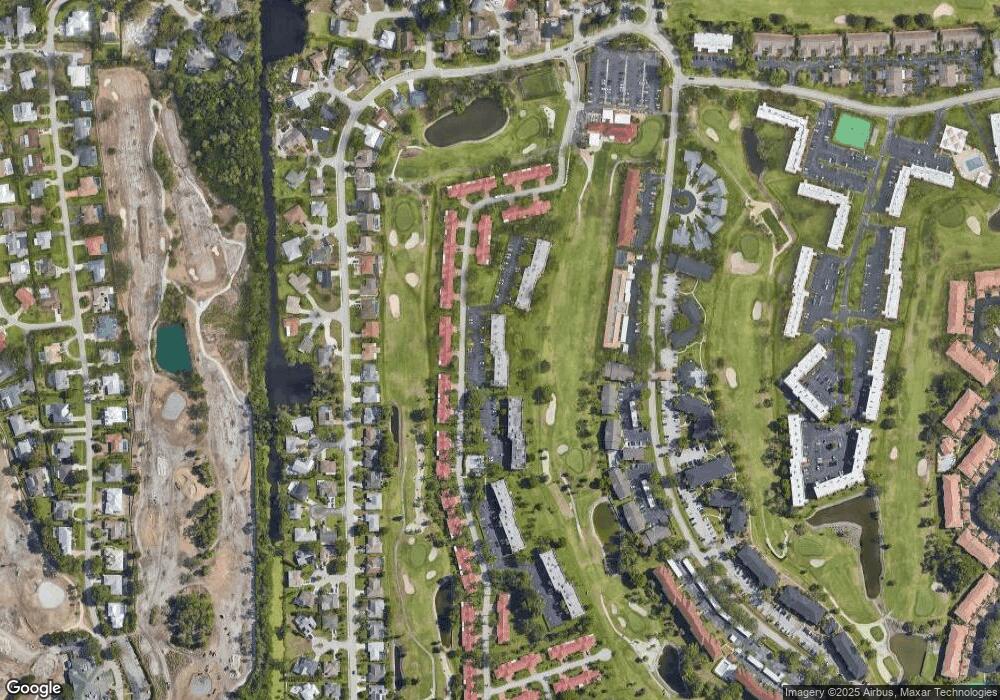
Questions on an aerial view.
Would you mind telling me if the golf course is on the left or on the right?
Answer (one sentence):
The golf course is on the right side of the image.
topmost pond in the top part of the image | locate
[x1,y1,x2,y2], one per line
[424,97,508,147]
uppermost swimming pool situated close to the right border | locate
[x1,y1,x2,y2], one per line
[954,146,992,181]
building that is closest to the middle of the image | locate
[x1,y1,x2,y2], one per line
[490,313,510,387]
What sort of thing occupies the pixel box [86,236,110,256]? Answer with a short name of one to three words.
house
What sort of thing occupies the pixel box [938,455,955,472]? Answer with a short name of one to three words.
swimming pool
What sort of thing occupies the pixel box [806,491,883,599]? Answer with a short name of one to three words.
pond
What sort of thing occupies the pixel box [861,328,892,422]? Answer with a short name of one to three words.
building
